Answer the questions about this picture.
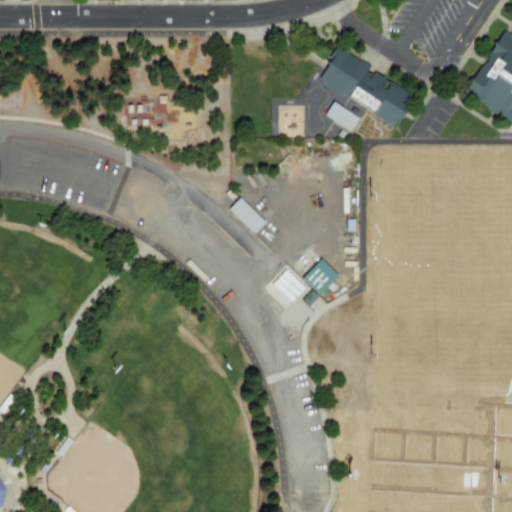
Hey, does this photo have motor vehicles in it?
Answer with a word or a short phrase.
Yes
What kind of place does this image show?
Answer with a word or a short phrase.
sports ground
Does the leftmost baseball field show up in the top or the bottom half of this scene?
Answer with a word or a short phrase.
bottom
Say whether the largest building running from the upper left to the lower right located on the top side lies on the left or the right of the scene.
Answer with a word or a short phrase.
right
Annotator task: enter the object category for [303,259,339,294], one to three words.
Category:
building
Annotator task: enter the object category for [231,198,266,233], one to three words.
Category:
shed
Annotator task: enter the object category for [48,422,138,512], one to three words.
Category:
baseball field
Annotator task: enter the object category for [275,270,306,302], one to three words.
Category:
building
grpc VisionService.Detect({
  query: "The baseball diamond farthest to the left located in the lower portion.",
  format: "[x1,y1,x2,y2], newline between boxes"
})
[0,352,25,408]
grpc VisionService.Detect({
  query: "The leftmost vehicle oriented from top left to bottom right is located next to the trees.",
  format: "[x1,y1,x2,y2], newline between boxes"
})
[188,260,214,284]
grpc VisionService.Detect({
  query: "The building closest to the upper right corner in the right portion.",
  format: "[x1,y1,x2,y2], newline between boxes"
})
[470,31,512,121]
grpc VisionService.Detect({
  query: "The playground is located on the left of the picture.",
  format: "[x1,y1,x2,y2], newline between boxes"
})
[124,96,200,137]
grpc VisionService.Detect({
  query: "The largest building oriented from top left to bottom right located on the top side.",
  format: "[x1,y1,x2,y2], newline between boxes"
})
[322,48,411,128]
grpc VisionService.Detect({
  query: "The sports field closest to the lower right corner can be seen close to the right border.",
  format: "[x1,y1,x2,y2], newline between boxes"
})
[308,142,512,512]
